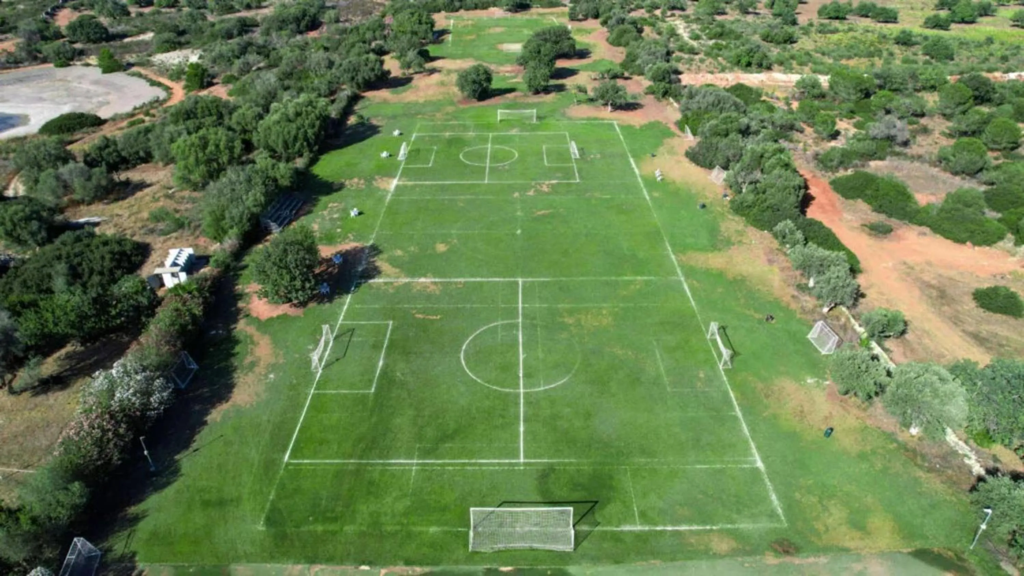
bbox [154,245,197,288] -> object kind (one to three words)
shed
